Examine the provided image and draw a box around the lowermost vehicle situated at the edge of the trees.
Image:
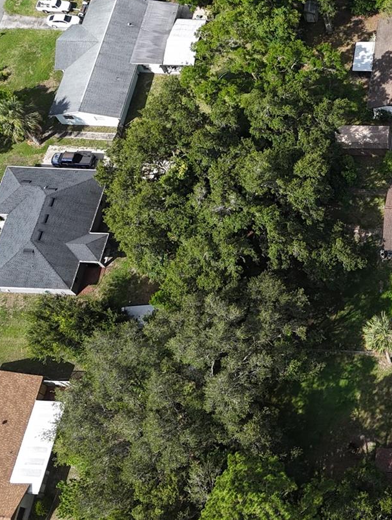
[51,150,95,168]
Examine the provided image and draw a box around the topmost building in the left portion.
[46,0,204,124]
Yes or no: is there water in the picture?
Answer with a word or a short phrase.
No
